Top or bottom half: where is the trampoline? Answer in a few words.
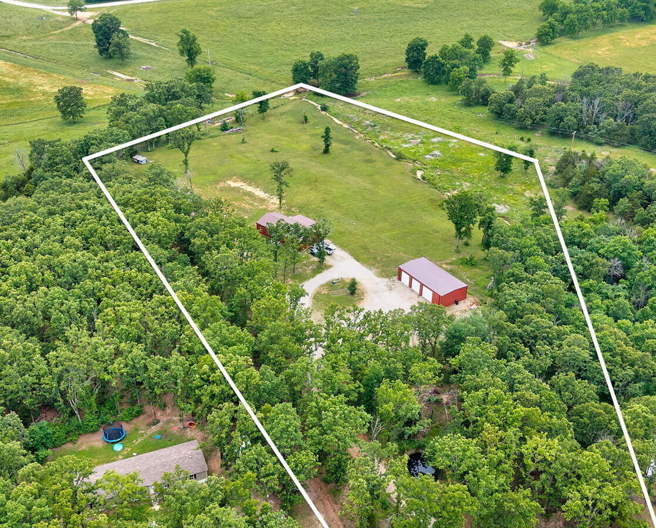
bottom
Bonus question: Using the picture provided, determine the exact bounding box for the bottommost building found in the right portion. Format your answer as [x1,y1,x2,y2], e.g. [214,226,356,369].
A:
[397,257,468,309]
